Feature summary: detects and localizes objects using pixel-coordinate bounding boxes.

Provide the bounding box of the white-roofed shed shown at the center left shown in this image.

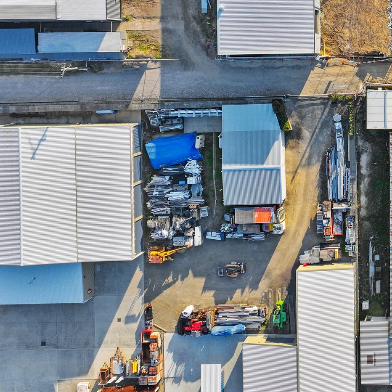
[0,122,152,304]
